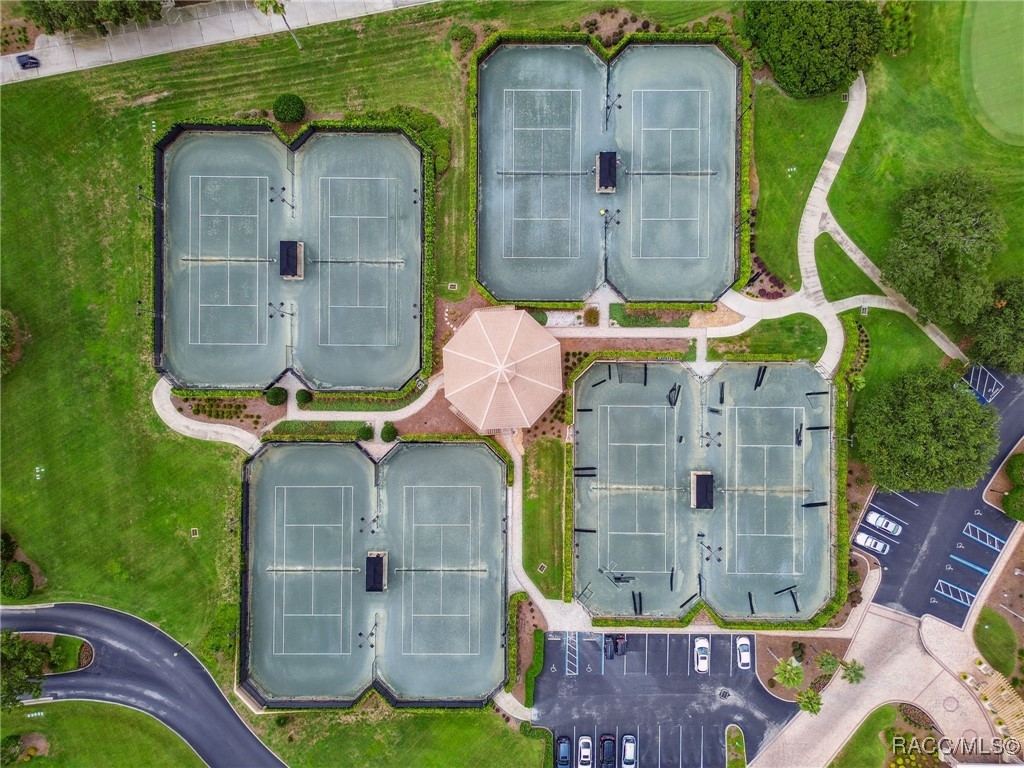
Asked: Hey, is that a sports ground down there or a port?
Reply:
sports ground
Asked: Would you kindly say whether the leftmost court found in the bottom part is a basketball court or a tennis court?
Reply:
tennis court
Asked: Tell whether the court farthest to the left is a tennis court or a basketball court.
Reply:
tennis court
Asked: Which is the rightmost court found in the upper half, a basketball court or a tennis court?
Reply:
tennis court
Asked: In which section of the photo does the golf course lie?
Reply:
top right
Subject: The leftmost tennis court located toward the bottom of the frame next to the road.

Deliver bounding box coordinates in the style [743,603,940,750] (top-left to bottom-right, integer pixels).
[247,445,377,699]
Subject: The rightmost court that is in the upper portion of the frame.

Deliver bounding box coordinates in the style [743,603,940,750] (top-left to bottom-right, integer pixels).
[607,46,735,300]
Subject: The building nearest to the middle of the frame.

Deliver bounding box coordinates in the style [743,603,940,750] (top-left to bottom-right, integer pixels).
[443,304,563,435]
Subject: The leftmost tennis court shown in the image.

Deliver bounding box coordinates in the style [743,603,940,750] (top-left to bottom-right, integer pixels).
[164,131,292,388]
